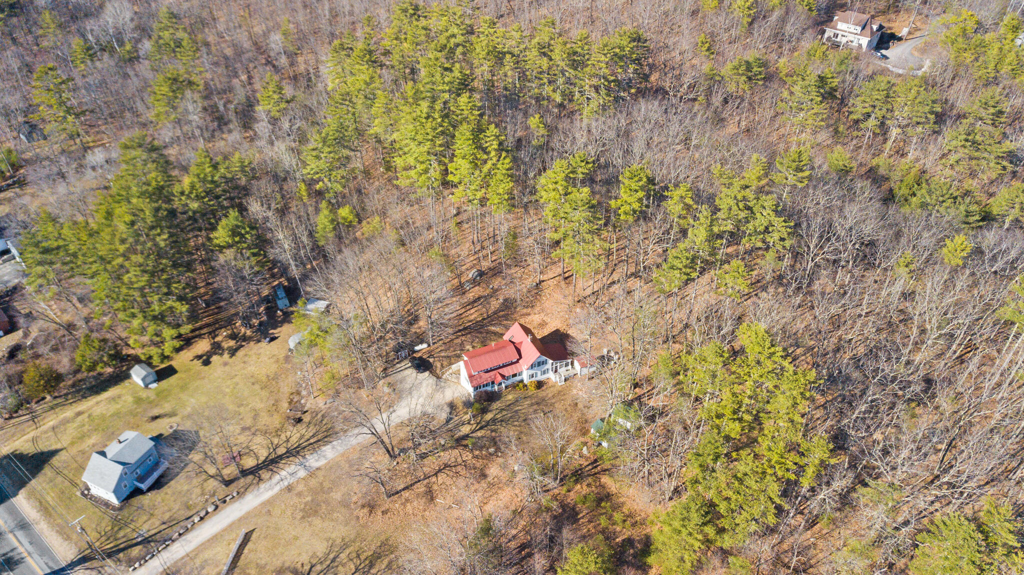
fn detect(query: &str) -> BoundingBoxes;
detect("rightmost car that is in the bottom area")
[412,354,429,372]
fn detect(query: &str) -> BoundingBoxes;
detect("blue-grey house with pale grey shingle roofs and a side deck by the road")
[83,429,169,503]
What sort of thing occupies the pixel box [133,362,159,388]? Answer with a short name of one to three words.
shed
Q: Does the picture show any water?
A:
No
